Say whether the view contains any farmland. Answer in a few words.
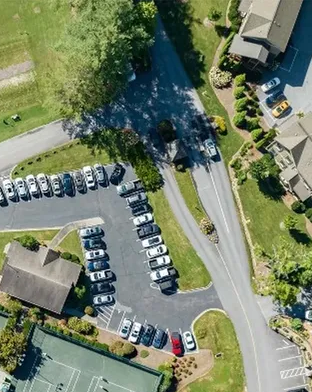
No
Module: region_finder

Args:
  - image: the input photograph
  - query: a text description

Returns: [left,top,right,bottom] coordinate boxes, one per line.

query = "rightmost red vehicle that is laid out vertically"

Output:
[171,332,184,356]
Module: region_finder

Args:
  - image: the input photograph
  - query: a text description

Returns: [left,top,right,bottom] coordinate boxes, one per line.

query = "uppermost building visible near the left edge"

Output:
[0,241,82,315]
